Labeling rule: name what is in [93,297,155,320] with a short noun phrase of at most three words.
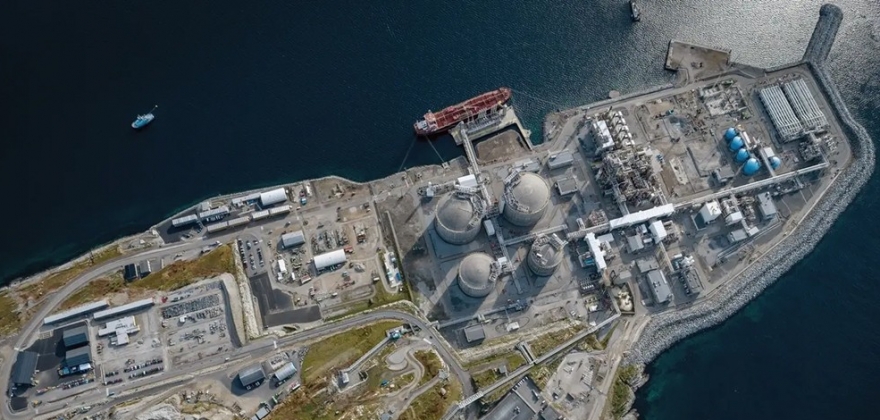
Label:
shed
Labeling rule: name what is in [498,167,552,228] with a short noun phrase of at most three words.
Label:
storage tank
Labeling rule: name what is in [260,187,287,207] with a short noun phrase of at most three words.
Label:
building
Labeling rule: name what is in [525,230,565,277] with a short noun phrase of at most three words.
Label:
storage tank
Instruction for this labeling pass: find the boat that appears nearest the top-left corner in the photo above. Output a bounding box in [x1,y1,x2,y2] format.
[131,113,155,128]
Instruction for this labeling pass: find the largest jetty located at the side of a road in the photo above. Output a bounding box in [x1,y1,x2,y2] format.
[449,106,531,147]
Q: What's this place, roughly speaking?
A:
port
